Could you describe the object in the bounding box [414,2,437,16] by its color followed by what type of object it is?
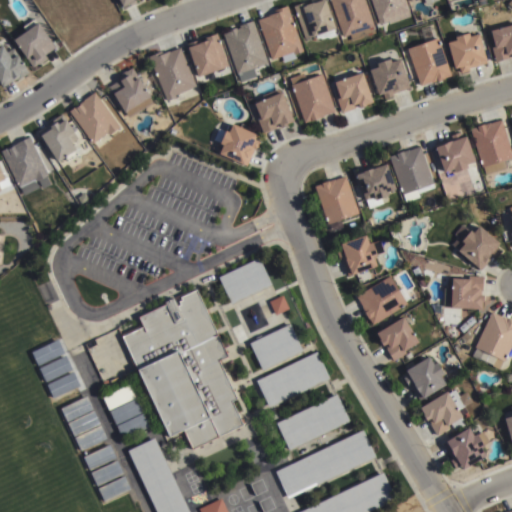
blue swimming pool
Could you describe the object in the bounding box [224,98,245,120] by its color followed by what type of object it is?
blue swimming pool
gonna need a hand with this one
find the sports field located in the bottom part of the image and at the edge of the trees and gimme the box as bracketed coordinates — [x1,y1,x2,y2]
[0,264,141,512]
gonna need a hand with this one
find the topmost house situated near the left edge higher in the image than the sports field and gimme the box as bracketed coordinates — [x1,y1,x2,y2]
[15,20,55,65]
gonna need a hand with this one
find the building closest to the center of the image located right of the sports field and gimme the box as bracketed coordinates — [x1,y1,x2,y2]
[220,260,272,304]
